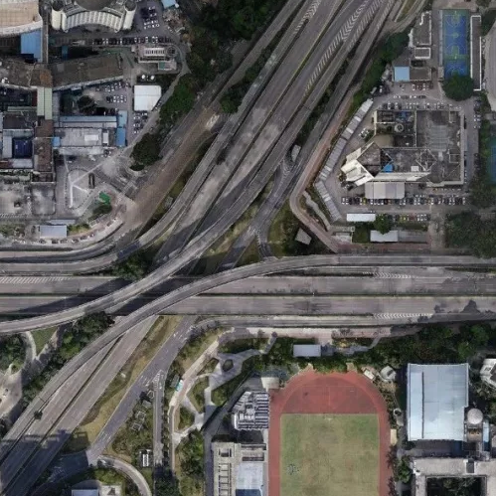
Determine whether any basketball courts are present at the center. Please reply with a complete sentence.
No, I can find no basketball court at the center.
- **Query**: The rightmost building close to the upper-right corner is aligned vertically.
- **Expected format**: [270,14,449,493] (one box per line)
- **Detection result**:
[469,15,481,91]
